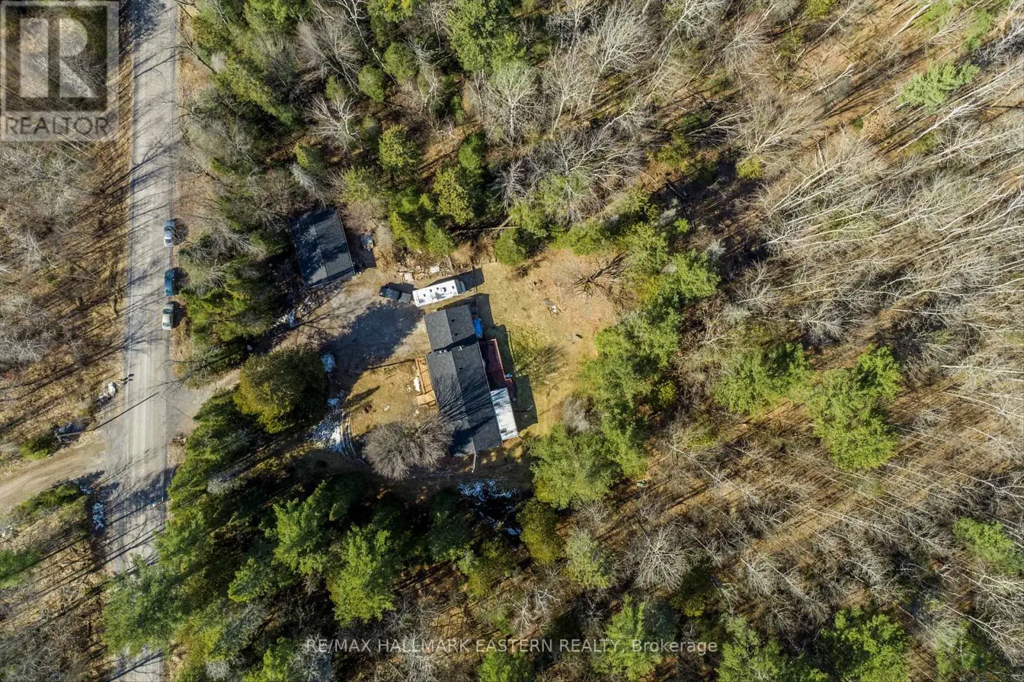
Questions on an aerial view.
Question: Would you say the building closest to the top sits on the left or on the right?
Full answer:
It is on the left.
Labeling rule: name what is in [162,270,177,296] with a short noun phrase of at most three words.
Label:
car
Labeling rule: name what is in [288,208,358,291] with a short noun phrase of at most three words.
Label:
building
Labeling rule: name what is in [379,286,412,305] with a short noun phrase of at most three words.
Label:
vehicle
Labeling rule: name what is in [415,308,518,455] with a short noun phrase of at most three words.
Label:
house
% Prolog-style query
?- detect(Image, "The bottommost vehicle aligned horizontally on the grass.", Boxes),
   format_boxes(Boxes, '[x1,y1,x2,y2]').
[414,279,472,308]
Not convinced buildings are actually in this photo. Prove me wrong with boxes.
[288,208,358,291]
[415,308,518,455]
